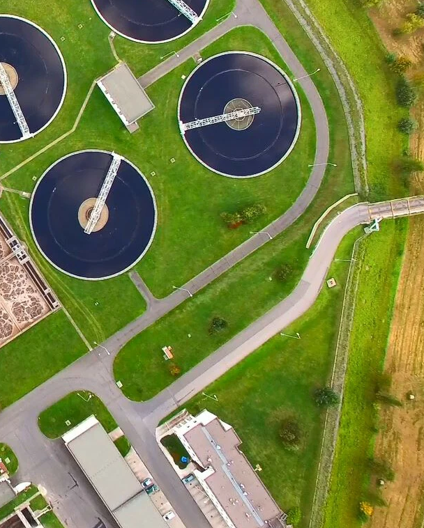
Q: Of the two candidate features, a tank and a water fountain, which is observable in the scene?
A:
tank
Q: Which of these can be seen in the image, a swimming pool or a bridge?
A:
bridge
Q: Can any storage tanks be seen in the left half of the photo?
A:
Yes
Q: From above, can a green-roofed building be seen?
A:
No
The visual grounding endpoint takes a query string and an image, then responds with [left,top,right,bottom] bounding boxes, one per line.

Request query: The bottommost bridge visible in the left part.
[84,153,123,233]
